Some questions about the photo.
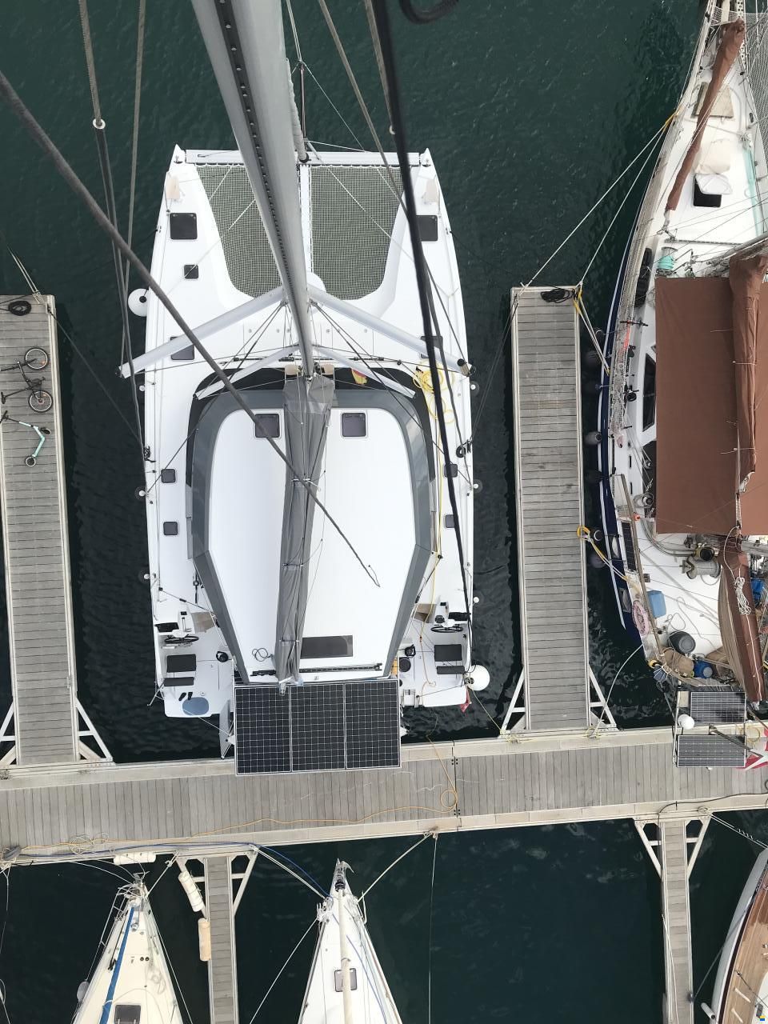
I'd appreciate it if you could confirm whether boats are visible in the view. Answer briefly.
Yes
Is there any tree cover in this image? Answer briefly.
No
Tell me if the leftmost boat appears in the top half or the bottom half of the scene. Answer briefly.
bottom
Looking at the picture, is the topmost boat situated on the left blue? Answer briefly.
No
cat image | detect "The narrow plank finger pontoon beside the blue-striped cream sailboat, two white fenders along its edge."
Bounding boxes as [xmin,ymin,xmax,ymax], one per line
[175,849,258,1024]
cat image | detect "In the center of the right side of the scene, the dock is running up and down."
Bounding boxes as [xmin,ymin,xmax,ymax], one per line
[501,284,617,733]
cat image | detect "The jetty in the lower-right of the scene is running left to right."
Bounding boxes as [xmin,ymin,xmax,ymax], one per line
[451,714,768,831]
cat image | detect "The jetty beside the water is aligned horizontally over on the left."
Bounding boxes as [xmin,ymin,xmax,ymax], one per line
[0,733,458,868]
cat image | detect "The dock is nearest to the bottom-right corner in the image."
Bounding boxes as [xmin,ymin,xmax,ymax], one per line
[634,814,711,1024]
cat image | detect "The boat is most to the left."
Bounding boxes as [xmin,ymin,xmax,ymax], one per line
[72,872,196,1024]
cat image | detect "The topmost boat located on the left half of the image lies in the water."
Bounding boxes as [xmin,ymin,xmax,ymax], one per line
[76,0,475,773]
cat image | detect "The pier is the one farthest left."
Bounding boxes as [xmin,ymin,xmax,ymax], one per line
[0,292,113,767]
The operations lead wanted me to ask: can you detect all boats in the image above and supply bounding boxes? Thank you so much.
[294,856,405,1024]
[595,0,768,773]
[72,872,196,1024]
[712,853,768,1024]
[76,0,475,773]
